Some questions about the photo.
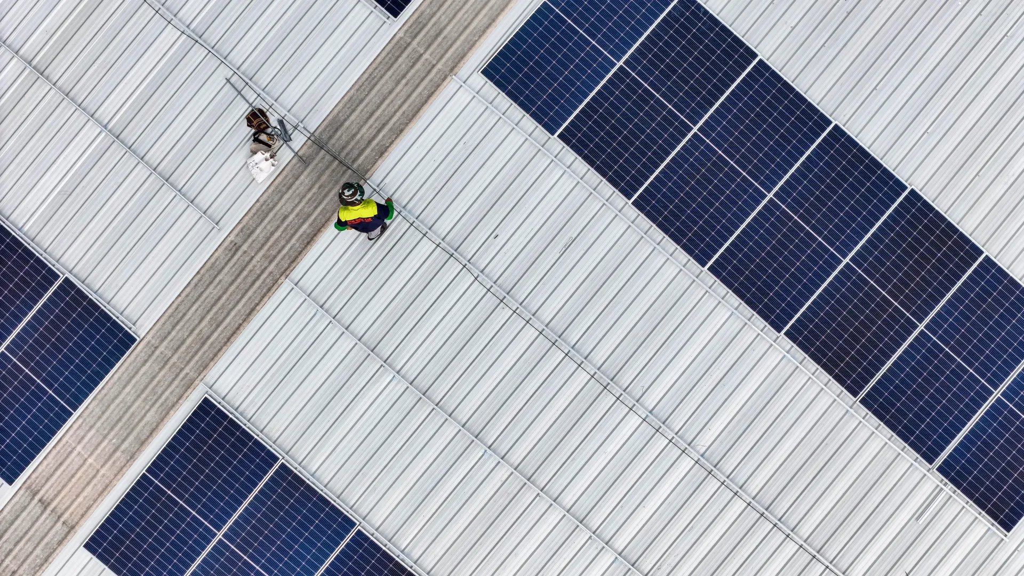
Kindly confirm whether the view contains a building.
No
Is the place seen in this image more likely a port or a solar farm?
solar farm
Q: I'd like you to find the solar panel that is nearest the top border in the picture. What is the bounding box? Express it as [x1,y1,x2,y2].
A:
[370,0,413,22]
